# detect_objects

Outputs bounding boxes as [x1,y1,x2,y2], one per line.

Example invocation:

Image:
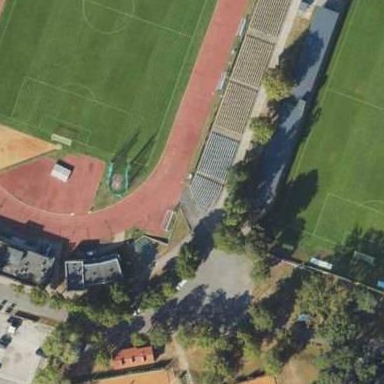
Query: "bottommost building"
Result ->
[112,346,154,370]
